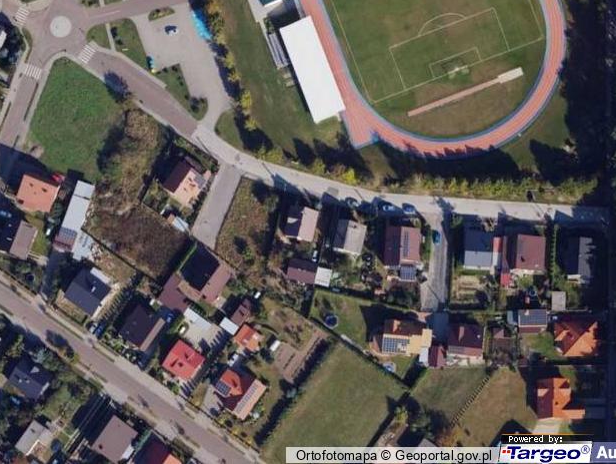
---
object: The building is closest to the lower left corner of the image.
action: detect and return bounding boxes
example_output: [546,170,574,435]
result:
[19,419,57,462]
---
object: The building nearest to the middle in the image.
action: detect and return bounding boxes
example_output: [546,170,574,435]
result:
[278,203,319,243]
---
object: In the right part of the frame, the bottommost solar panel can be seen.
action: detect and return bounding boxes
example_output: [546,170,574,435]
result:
[380,335,405,353]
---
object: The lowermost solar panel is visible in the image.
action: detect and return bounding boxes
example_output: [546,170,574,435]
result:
[239,386,260,412]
